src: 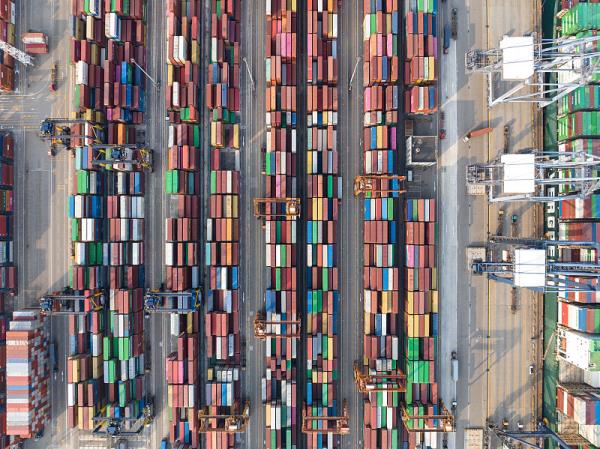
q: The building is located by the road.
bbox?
[409,137,437,165]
